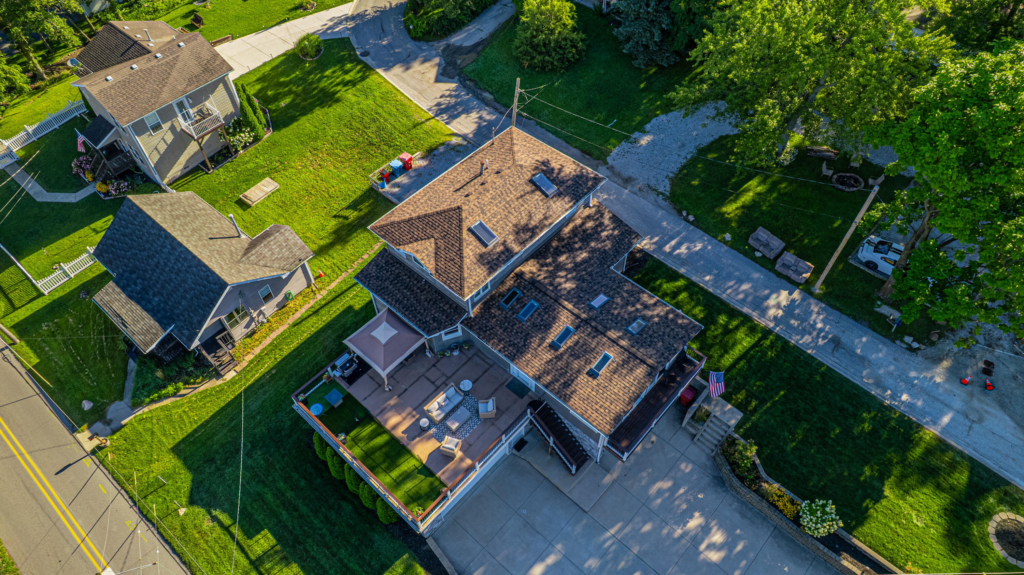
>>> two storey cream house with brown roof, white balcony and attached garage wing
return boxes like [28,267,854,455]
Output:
[71,19,248,193]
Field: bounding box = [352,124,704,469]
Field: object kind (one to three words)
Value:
house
